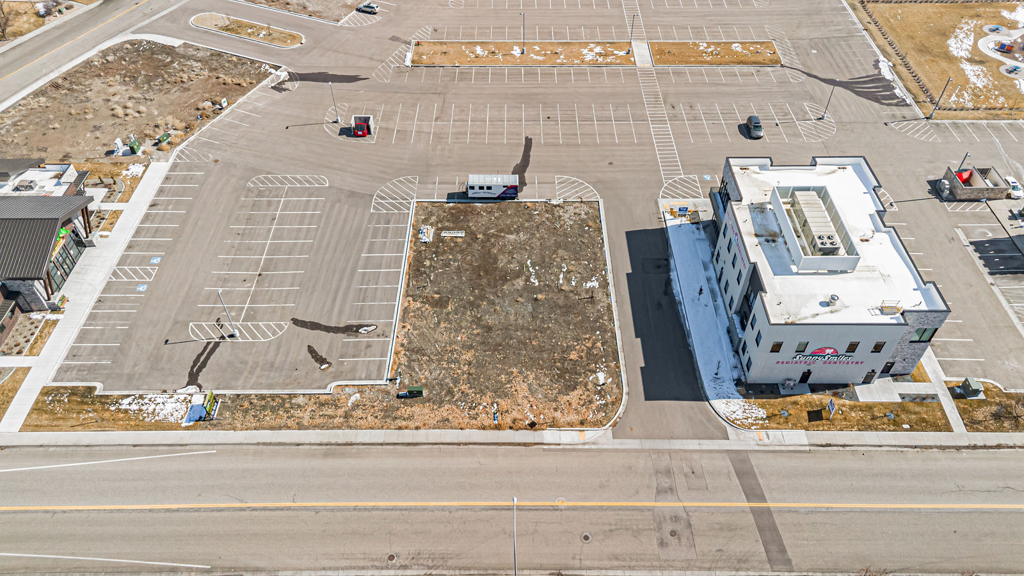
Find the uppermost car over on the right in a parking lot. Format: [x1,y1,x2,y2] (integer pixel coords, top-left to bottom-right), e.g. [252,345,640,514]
[747,113,767,137]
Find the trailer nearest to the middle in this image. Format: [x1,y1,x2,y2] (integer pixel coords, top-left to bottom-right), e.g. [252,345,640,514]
[460,170,521,199]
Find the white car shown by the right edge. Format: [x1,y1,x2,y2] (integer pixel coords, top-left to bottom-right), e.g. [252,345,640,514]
[1003,173,1024,199]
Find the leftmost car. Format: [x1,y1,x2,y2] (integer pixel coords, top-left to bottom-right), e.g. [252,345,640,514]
[355,1,381,13]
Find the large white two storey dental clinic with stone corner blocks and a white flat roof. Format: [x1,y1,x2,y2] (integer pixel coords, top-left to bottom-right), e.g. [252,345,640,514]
[704,156,950,383]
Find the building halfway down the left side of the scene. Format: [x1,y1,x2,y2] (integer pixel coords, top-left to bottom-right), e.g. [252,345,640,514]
[0,147,101,332]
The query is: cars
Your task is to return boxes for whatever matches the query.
[1003,173,1024,199]
[747,113,767,137]
[355,1,381,13]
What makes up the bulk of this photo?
paved ground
